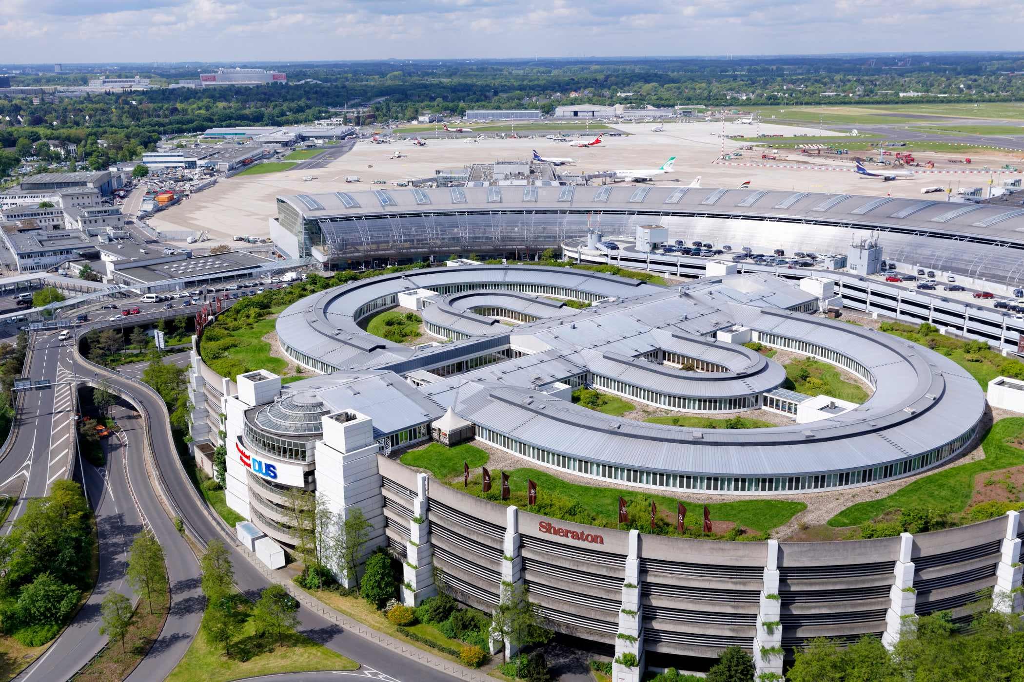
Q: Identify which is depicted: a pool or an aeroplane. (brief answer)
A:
aeroplane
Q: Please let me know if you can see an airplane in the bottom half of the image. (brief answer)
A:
No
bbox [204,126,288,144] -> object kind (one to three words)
building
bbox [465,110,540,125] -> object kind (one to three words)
hangar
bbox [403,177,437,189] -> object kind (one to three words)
jet bridge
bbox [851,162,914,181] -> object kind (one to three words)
airplane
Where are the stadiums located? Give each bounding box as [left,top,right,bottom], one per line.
[199,68,301,87]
